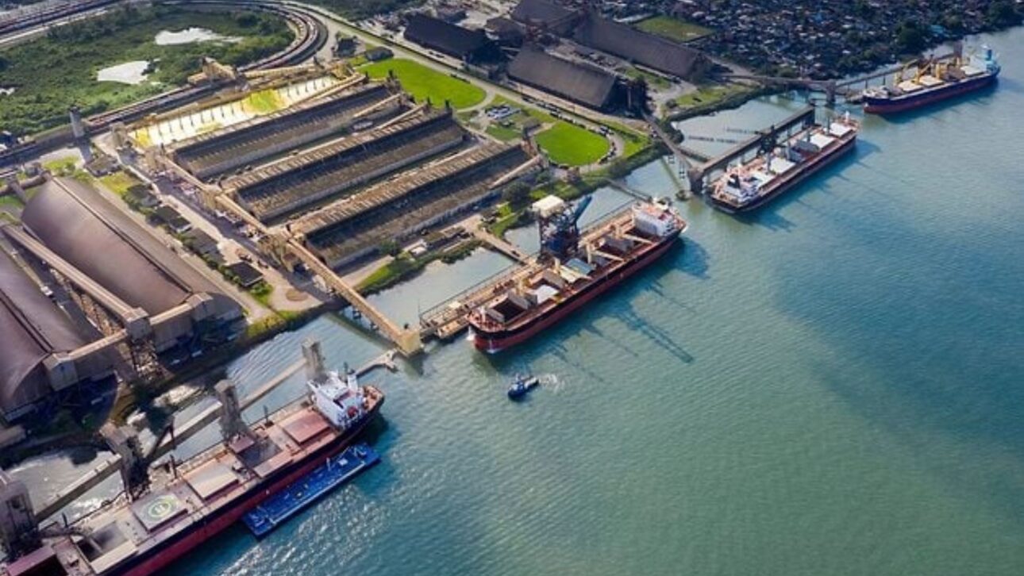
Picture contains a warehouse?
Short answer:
Yes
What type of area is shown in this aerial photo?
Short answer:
port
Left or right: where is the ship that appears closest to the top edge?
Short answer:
right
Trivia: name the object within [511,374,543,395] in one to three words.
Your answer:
boat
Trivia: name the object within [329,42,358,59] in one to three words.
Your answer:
building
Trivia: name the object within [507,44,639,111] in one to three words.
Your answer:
shed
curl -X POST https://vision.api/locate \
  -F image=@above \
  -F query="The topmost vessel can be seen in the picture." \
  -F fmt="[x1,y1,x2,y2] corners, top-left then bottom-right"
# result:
[862,45,999,109]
